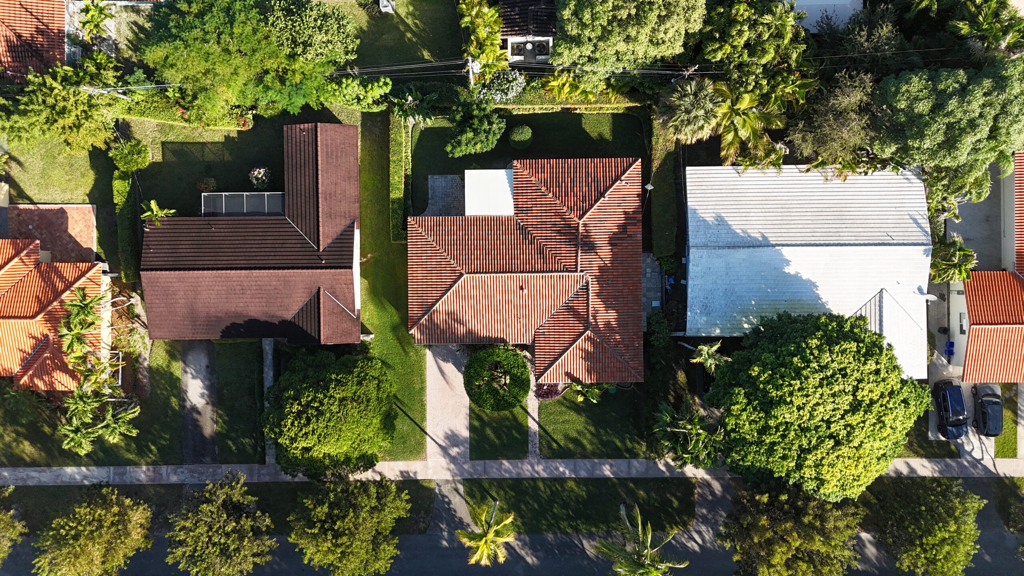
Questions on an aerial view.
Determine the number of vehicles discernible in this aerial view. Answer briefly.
2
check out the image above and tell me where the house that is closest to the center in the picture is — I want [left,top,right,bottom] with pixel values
[407,157,645,383]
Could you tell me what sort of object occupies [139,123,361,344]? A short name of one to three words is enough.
house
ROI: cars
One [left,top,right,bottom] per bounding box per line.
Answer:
[938,379,974,437]
[975,383,1007,435]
